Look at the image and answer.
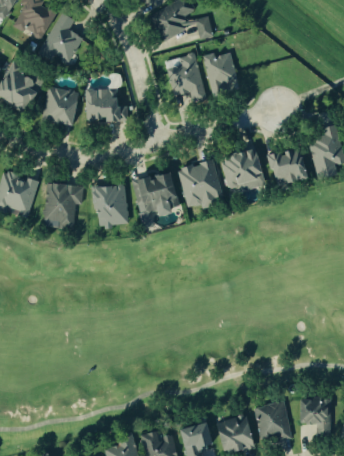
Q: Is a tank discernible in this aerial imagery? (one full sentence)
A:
No, no tank is visible in the view.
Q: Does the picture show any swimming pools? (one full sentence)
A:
Yes, a swimming pool is visible in the scene.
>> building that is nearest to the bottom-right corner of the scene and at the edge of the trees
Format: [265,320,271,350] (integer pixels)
[301,398,332,434]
